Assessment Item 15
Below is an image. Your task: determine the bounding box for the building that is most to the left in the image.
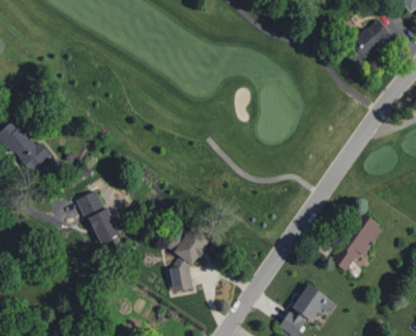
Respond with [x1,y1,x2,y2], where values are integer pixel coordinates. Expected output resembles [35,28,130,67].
[0,123,53,169]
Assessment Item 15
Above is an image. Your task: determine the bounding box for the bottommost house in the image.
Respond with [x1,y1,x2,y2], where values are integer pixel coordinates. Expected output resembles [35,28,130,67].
[282,284,337,336]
